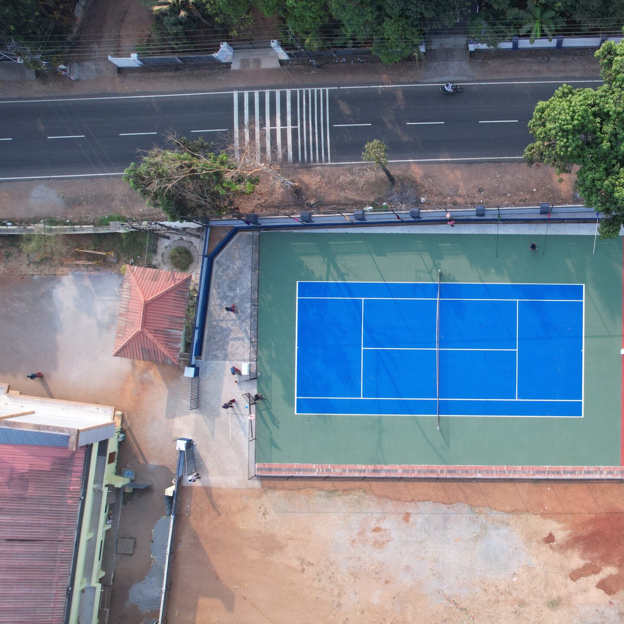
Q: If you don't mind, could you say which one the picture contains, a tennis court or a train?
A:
tennis court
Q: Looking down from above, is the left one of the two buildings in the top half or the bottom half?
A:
bottom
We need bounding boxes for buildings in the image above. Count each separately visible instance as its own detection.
[0,382,151,624]
[111,265,194,366]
